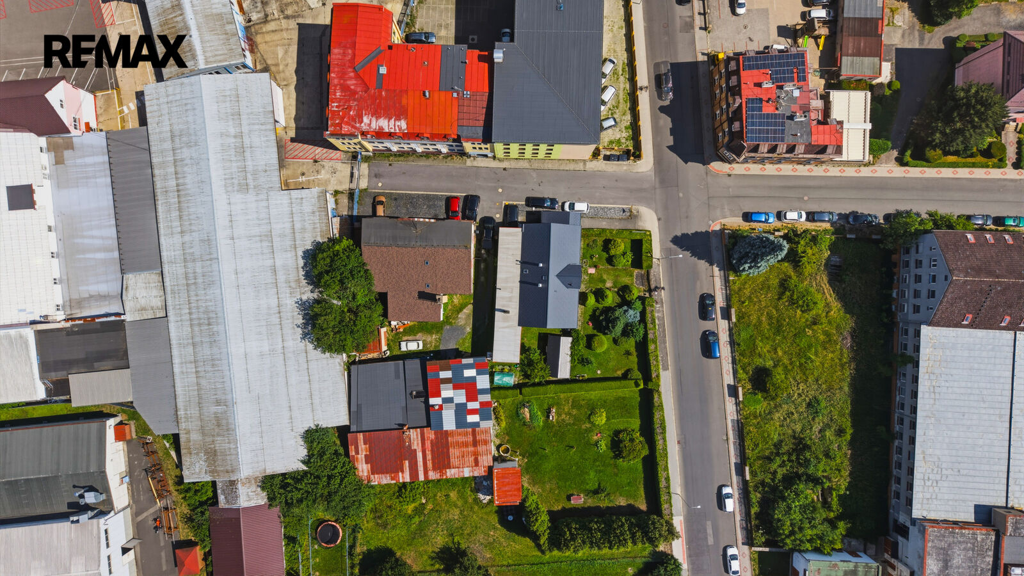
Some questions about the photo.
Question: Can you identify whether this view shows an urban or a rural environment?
urban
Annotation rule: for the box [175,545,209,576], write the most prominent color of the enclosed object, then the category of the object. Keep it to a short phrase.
red gazebo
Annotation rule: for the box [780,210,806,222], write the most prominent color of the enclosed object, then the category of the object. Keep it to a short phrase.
white vehicle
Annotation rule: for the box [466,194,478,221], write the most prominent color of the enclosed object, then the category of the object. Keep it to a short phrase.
black vehicle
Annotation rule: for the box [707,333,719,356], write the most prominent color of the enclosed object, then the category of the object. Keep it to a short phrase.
blue vehicle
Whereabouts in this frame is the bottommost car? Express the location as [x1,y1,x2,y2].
[727,548,740,575]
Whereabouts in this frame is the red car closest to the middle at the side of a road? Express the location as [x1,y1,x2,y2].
[448,197,460,220]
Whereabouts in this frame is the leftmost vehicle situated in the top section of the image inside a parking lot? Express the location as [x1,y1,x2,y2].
[374,196,386,220]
